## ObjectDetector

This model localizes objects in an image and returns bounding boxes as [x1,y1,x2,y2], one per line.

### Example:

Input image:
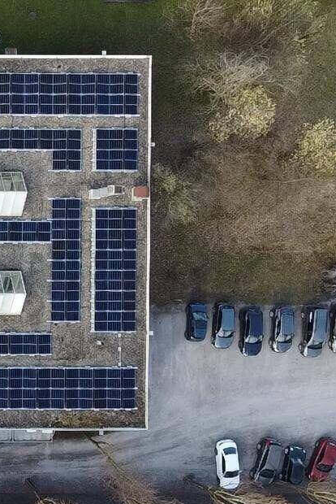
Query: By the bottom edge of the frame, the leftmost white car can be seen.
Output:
[212,439,241,487]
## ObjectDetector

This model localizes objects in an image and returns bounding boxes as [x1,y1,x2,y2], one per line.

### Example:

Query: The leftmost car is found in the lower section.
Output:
[185,303,209,340]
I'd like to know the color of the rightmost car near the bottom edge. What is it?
red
